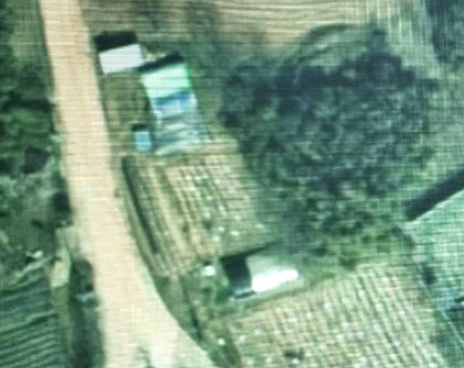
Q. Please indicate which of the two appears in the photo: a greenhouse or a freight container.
greenhouse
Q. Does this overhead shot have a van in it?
No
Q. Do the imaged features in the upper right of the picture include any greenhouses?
No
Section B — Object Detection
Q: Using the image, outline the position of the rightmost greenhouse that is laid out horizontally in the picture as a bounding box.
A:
[221,244,299,295]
